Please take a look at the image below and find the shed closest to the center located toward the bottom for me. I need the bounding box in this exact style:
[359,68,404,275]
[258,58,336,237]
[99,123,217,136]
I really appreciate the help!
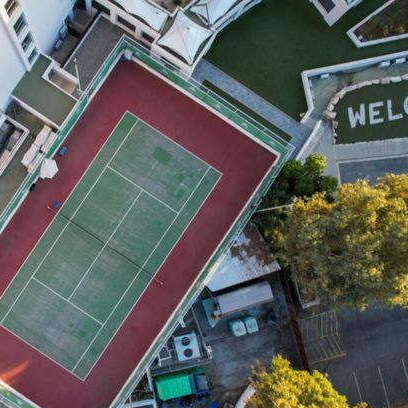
[204,222,279,290]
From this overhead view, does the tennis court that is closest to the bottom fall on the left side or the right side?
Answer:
left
